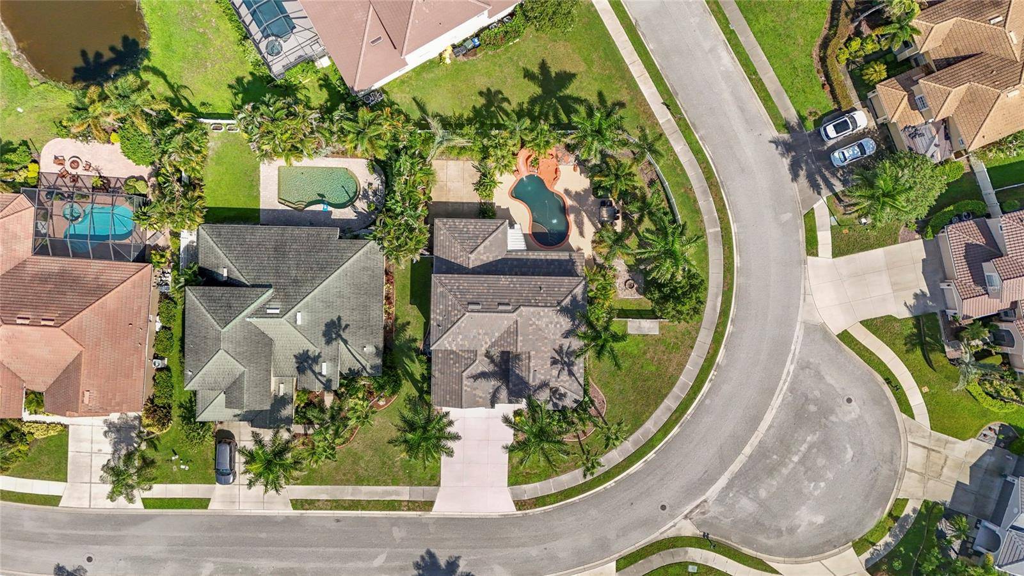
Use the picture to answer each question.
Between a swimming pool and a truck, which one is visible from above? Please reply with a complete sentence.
I can see a swimming pool in this picture.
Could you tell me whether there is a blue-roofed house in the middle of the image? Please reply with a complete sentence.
No, I see no blue-roofed house in the middle of the image.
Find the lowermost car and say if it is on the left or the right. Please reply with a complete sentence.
It is on the left.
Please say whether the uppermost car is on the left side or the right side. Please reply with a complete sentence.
The uppermost car is on the right side of the image.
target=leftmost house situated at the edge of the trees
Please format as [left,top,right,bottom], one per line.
[0,193,160,419]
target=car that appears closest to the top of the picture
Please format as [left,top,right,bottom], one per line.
[817,113,866,142]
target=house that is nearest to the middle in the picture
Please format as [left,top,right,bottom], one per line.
[429,218,588,411]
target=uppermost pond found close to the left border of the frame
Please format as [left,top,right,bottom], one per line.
[2,0,144,84]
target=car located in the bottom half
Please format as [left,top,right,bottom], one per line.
[214,437,239,483]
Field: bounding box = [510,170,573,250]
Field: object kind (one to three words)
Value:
swimming pool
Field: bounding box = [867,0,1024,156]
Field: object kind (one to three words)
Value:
house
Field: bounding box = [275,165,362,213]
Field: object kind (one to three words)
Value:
swimming pool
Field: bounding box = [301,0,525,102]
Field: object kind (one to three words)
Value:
house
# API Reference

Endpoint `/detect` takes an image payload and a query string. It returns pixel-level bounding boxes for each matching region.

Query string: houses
[867,0,1024,156]
[0,193,160,419]
[301,0,525,102]
[933,210,1024,405]
[429,218,588,411]
[183,224,384,428]
[975,469,1024,576]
